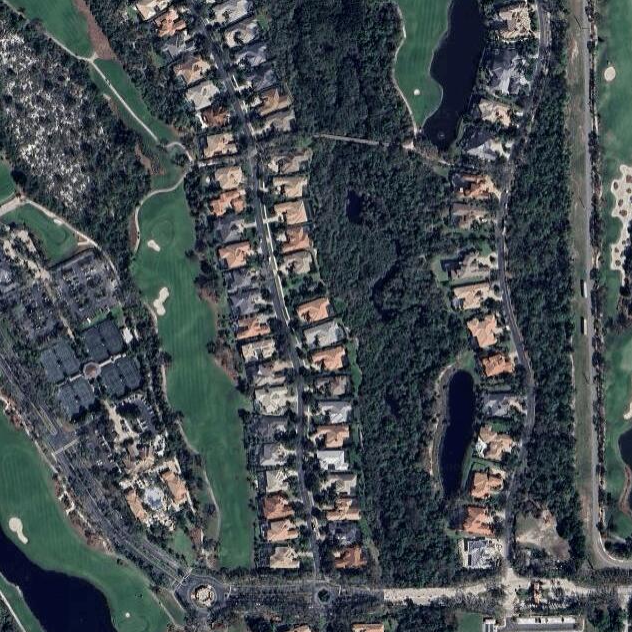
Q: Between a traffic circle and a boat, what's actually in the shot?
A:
traffic circle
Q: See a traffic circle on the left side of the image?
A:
Yes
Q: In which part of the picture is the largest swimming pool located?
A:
bottom left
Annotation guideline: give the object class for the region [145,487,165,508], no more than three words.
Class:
swimming pool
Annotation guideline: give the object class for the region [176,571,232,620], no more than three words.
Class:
roundabout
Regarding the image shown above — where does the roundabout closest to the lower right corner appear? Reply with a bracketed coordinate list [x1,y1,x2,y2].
[311,580,340,610]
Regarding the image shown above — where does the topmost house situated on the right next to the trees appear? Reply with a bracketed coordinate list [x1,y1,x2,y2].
[491,3,535,38]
